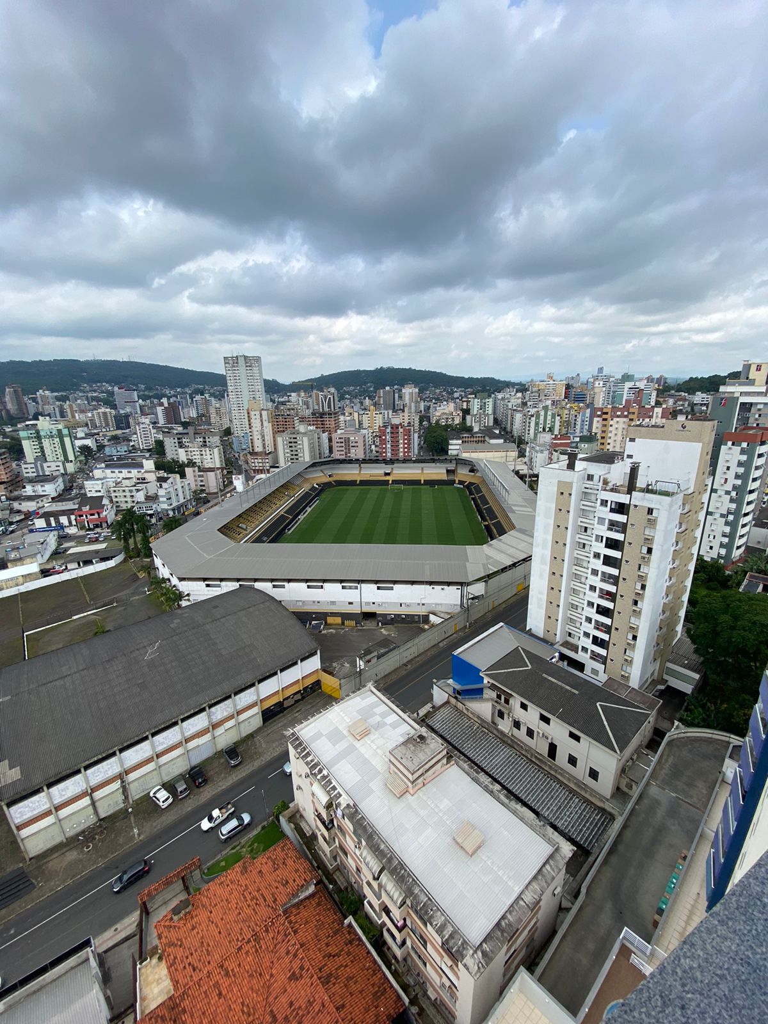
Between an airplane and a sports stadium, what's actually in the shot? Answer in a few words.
sports stadium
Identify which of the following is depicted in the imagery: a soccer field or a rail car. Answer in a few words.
soccer field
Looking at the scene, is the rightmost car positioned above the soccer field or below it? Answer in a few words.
below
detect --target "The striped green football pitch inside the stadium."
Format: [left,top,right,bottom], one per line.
[275,486,488,554]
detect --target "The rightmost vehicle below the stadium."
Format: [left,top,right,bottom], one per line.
[273,760,293,783]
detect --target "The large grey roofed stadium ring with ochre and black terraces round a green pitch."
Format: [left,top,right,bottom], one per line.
[149,458,538,584]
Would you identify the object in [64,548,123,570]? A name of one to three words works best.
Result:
shed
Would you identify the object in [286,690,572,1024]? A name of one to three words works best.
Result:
house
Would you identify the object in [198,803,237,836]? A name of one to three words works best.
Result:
truck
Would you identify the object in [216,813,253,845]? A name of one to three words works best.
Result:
car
